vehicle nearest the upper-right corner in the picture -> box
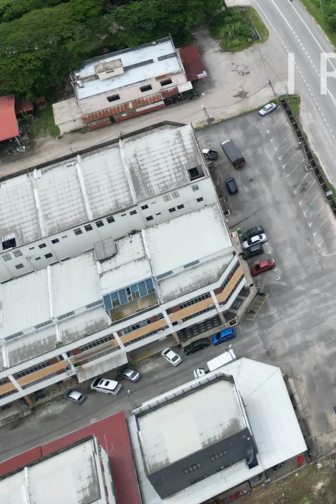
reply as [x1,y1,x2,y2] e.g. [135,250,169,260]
[257,102,279,117]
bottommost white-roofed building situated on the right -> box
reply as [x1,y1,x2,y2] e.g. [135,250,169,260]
[124,359,307,504]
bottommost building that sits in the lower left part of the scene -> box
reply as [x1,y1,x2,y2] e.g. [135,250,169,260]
[0,411,140,504]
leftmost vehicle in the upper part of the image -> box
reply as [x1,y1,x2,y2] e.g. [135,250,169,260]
[200,147,222,163]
